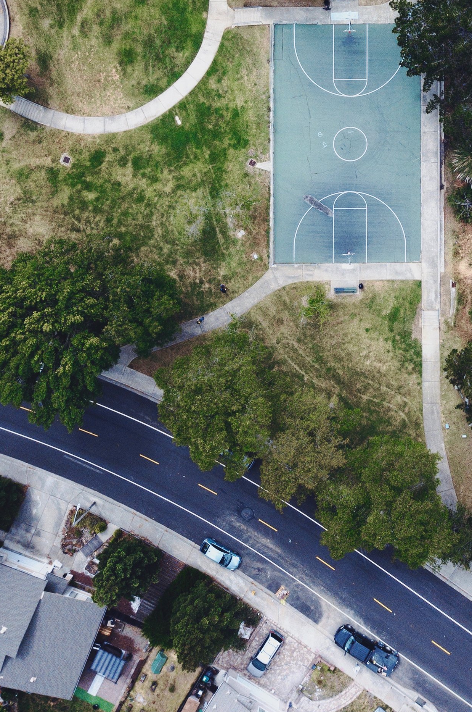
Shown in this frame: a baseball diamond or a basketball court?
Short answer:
basketball court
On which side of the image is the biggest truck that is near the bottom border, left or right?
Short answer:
right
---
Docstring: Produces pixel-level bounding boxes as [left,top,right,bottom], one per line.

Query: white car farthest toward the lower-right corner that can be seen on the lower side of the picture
[248,633,283,679]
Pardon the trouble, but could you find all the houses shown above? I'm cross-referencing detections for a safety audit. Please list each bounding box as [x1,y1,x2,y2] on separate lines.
[197,662,295,712]
[0,541,110,702]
